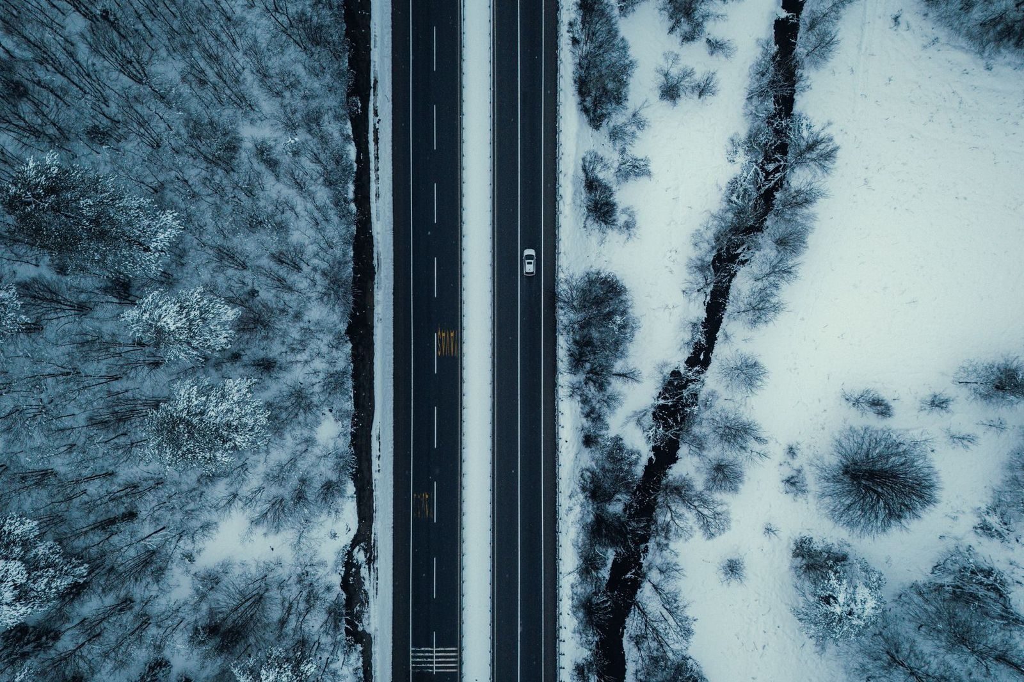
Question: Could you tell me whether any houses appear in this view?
No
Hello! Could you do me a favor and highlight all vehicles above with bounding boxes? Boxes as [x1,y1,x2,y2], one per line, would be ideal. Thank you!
[523,249,537,276]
